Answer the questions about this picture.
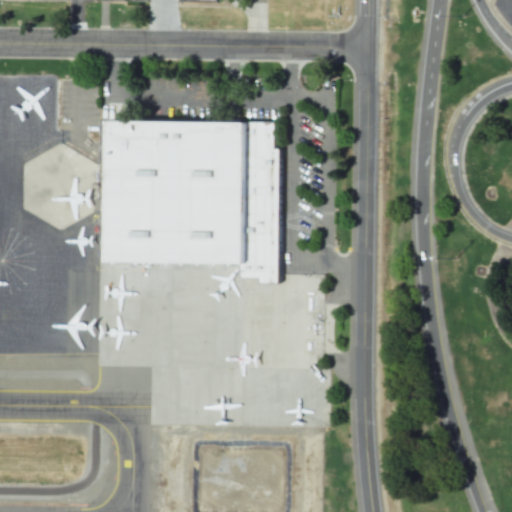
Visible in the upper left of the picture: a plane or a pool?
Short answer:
plane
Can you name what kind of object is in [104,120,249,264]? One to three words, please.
hangar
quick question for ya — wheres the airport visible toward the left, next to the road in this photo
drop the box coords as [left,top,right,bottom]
[0,76,335,512]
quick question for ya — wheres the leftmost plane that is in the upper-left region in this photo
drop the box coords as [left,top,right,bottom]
[11,86,50,120]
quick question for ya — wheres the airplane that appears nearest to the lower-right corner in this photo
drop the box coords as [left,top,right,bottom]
[286,398,315,426]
